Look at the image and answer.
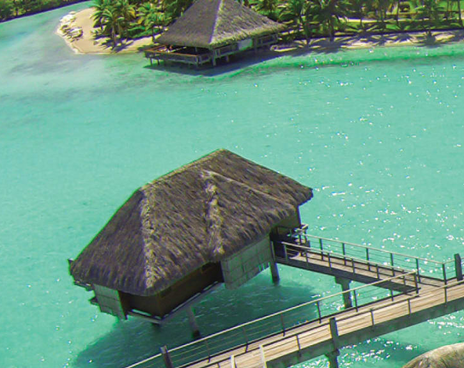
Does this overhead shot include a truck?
No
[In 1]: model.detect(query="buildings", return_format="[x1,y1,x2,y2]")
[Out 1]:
[62,151,317,344]
[140,0,290,80]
